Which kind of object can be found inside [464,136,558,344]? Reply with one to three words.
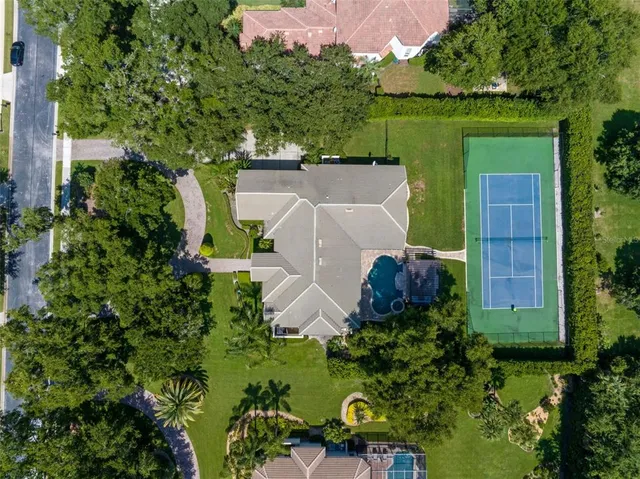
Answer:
tennis court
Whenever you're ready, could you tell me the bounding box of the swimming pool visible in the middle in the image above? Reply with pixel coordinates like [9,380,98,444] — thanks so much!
[366,254,405,316]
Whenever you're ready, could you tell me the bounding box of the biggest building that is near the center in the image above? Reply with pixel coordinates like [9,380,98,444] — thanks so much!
[236,164,409,338]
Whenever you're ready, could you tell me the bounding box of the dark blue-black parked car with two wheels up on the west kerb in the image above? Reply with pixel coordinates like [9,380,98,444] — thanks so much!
[11,41,27,66]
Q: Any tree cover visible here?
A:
Yes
